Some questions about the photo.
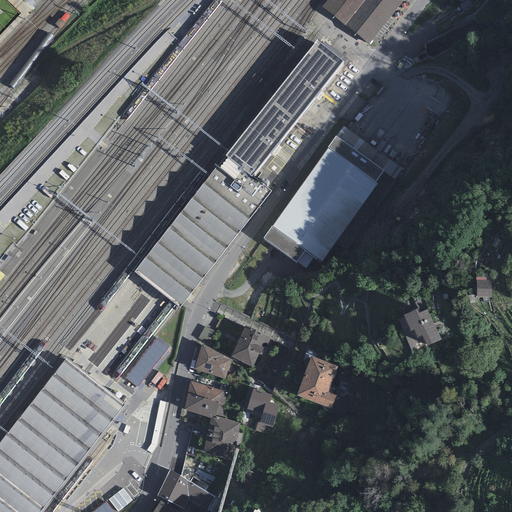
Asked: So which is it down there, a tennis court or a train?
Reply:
train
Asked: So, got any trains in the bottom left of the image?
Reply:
Yes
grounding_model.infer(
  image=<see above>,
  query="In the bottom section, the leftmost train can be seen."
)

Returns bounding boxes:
[0,342,44,404]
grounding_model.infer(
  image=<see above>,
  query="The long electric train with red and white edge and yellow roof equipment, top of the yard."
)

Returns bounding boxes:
[118,0,222,124]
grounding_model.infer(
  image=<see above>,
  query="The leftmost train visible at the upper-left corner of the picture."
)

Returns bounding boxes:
[8,32,56,89]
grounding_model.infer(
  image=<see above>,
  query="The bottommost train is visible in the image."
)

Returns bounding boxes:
[43,456,93,512]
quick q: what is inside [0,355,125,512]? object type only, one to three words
building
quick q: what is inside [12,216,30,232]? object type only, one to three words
vehicle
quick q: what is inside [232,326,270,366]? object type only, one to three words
house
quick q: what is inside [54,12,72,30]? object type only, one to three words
rail car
